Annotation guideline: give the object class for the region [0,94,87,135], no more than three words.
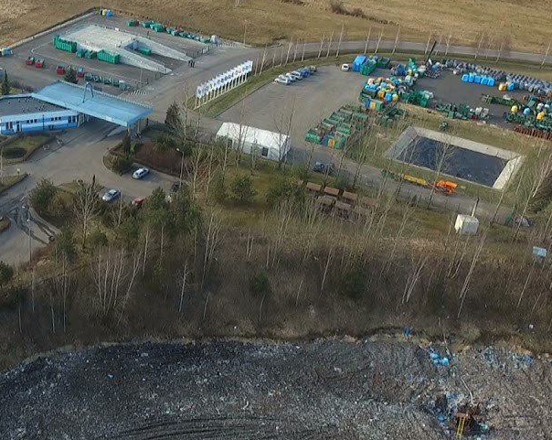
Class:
building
